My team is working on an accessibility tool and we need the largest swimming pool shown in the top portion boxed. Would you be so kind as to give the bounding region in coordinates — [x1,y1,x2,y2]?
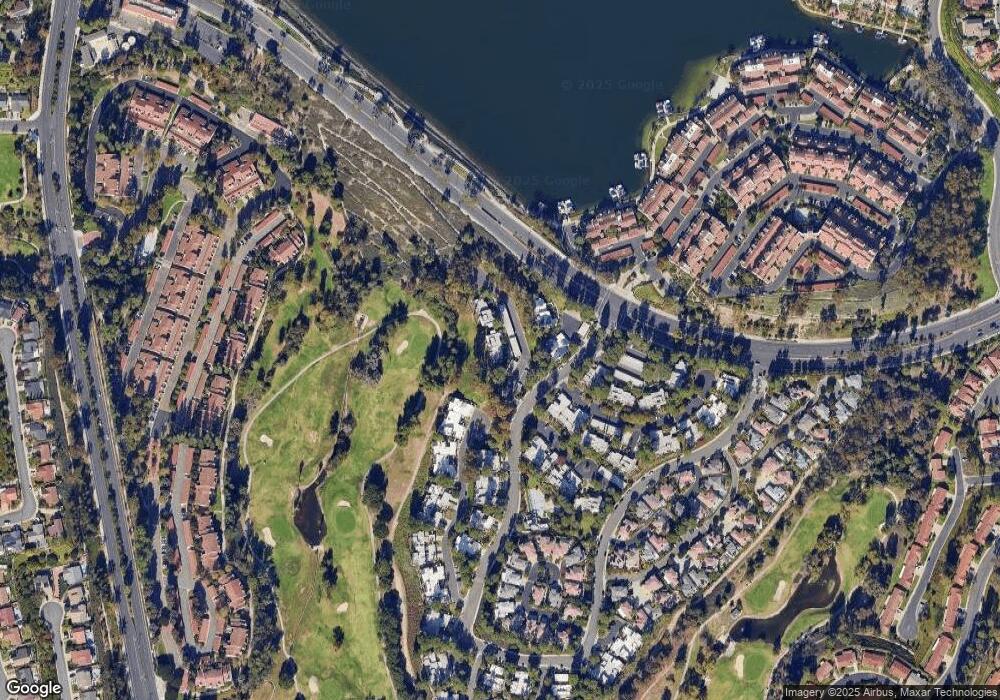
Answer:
[792,203,813,223]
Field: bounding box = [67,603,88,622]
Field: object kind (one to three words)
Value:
house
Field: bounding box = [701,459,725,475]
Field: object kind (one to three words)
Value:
house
